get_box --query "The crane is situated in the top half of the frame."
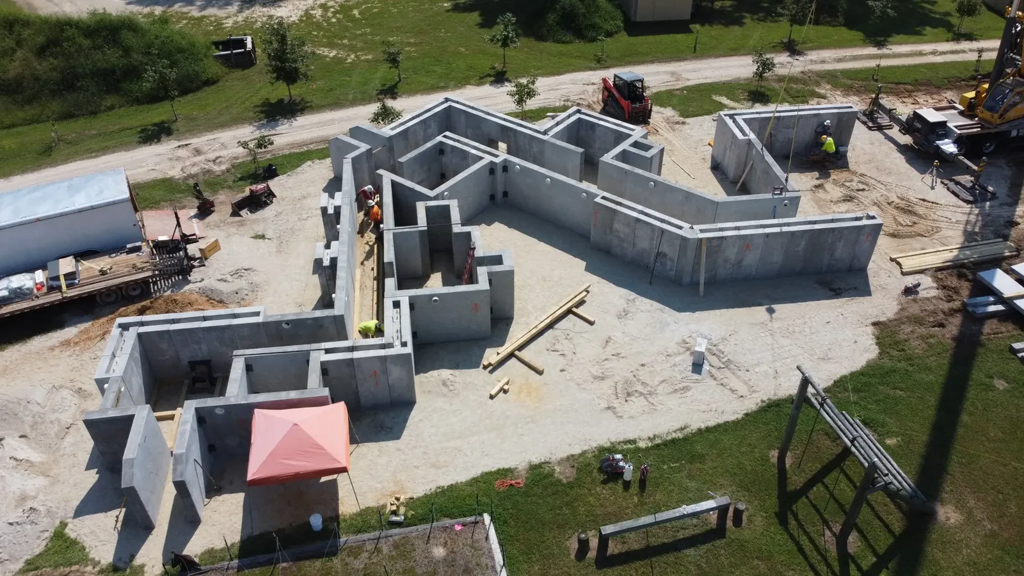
[875,0,1024,186]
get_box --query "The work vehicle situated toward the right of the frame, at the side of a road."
[604,80,651,131]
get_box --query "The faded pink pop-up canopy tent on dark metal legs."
[248,402,357,525]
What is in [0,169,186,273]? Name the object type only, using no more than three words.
trailer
